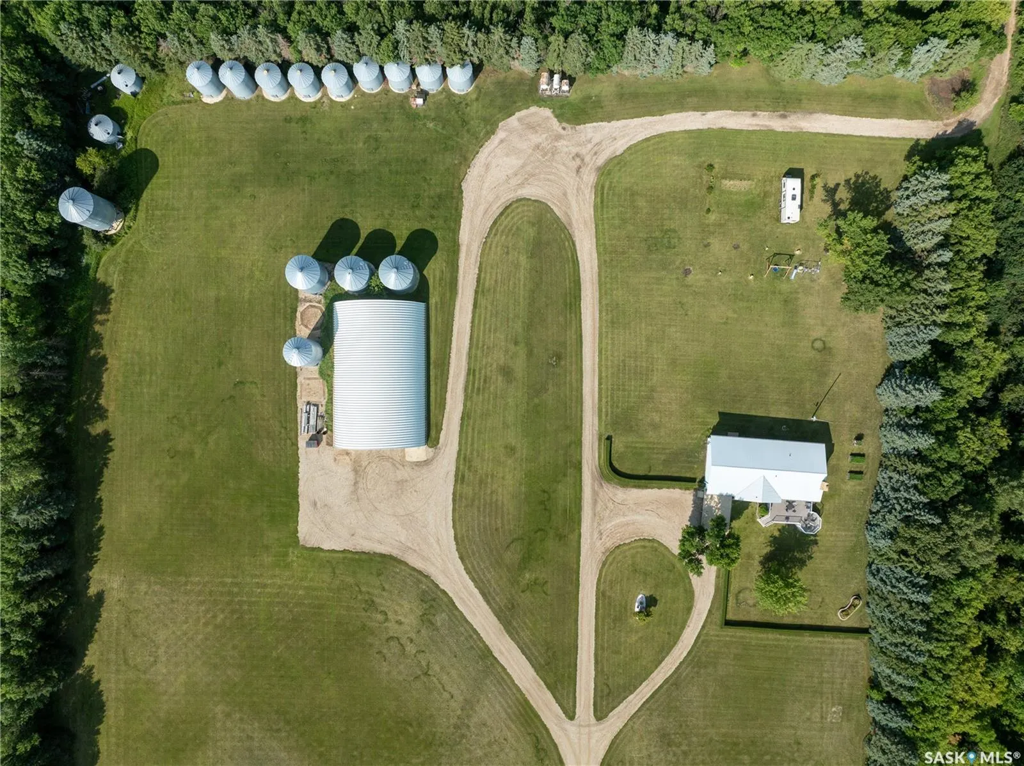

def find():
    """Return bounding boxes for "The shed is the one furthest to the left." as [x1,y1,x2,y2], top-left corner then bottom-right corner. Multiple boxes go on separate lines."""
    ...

[333,299,426,449]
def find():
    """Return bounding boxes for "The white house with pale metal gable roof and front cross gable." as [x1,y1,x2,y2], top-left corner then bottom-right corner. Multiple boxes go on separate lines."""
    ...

[704,435,827,503]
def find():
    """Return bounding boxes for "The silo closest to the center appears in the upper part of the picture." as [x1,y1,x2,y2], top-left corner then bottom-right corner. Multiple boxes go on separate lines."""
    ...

[378,256,417,294]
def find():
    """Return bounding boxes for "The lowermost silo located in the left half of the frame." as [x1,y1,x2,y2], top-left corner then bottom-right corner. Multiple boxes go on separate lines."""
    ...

[283,336,322,367]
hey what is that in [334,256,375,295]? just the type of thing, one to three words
silo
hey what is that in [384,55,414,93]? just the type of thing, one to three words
silo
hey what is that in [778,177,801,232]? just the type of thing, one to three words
trailer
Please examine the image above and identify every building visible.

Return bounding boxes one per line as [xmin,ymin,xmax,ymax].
[333,299,426,449]
[704,435,827,503]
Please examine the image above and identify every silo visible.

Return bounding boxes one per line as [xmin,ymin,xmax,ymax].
[58,187,127,235]
[446,55,473,93]
[283,336,322,367]
[219,60,256,99]
[88,115,123,146]
[288,62,321,100]
[255,62,289,100]
[111,63,146,96]
[378,256,417,294]
[353,55,384,93]
[186,60,225,99]
[334,256,375,295]
[285,255,333,295]
[384,55,414,93]
[321,62,353,100]
[416,55,444,93]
